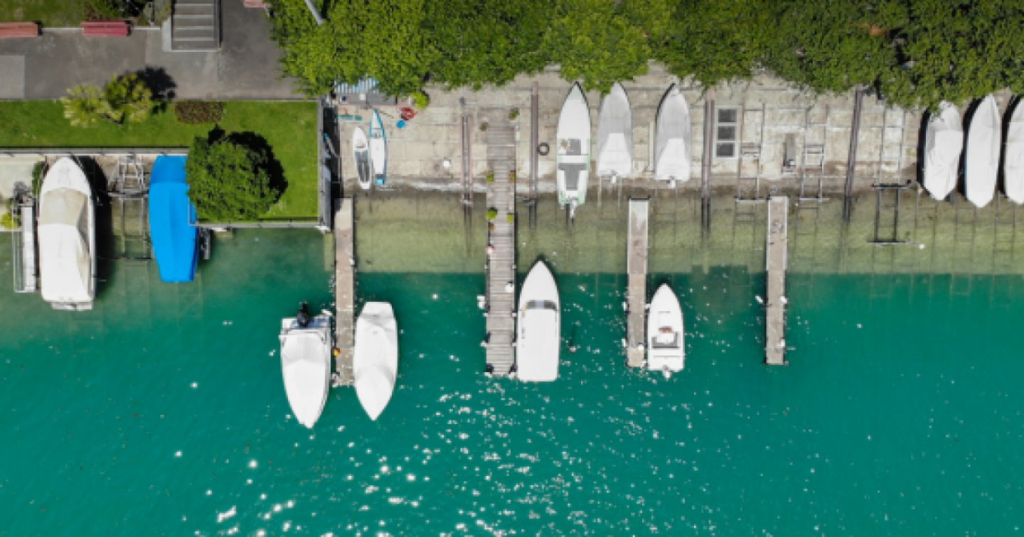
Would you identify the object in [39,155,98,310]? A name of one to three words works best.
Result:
boat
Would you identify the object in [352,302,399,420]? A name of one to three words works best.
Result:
boat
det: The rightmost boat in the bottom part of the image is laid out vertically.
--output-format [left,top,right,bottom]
[647,283,685,380]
